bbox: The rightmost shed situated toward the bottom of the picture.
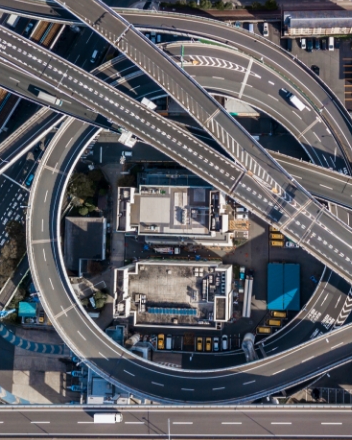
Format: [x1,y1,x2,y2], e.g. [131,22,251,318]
[269,263,300,310]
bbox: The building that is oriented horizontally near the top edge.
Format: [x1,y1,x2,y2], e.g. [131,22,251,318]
[283,9,352,38]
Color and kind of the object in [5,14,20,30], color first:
white vehicle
